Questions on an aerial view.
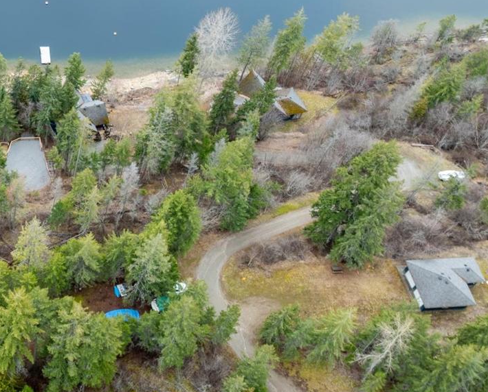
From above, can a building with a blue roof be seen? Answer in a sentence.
No, I find no building with a blue roof anywhere in the image.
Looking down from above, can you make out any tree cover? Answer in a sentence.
Yes, tree cover can be seen from above here.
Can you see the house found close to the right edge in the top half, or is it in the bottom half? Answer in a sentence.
Seen from above, the house found close to the right edge lies in the bottom half of the view.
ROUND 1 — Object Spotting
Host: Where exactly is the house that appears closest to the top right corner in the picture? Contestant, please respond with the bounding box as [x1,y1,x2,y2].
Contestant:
[276,90,307,124]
